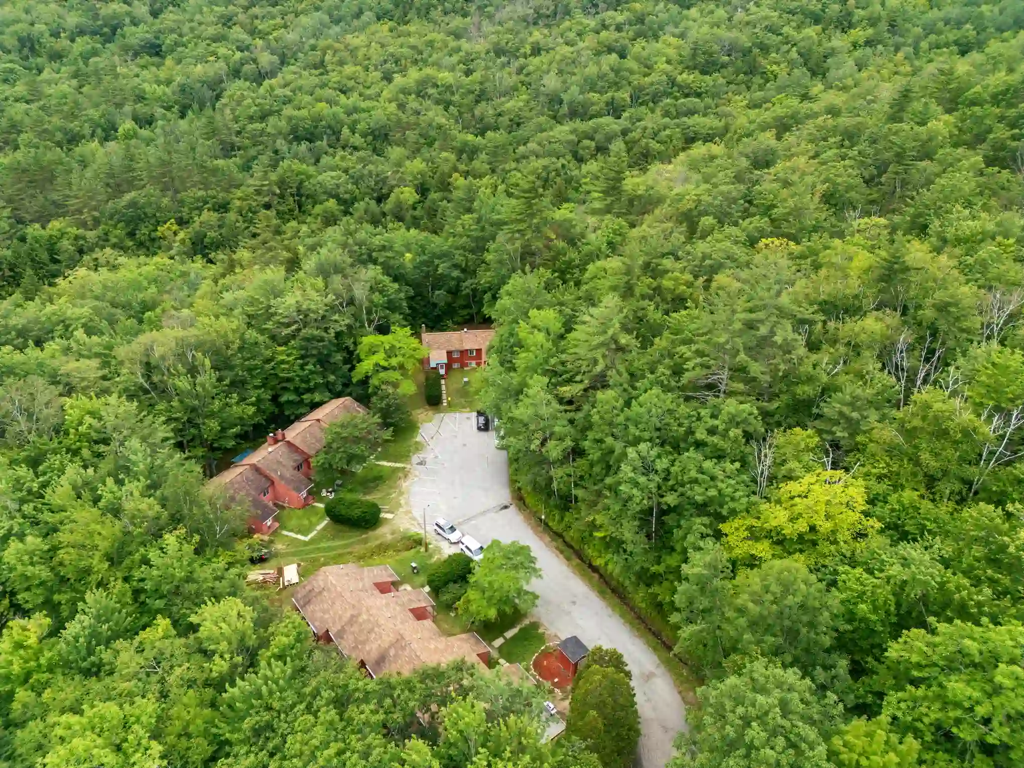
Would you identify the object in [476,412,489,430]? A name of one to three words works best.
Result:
vehicle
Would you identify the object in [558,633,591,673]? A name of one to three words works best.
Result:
shed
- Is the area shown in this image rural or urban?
rural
